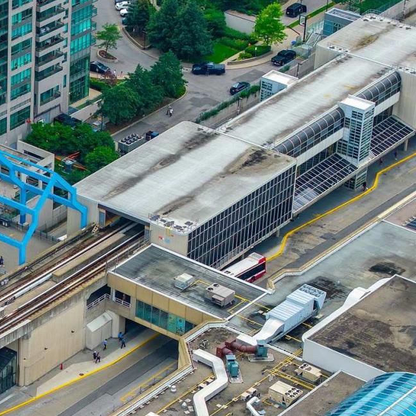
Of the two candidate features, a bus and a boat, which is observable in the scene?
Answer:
bus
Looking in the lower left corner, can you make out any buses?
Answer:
No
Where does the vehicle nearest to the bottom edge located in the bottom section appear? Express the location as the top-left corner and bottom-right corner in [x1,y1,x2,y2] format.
[226,245,273,282]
